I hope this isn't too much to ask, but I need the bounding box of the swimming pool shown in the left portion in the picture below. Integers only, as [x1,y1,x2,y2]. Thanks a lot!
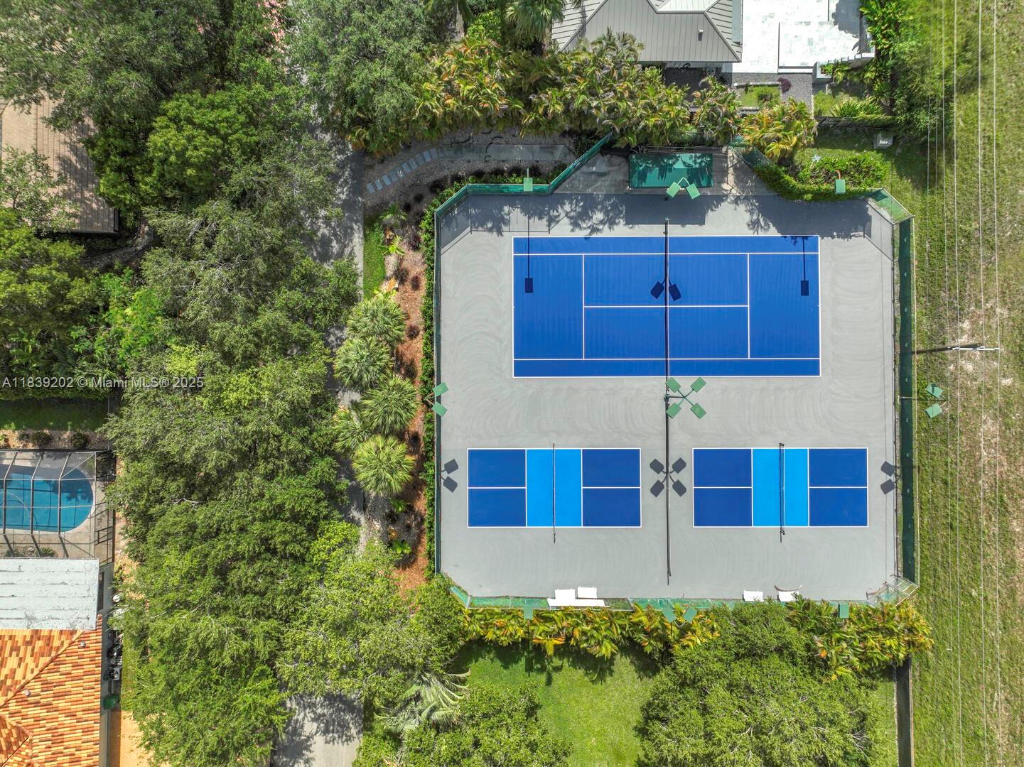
[0,460,98,535]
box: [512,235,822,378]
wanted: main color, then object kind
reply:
blue tennis court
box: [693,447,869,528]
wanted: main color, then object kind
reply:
blue sports court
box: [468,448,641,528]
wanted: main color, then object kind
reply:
blue sports court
